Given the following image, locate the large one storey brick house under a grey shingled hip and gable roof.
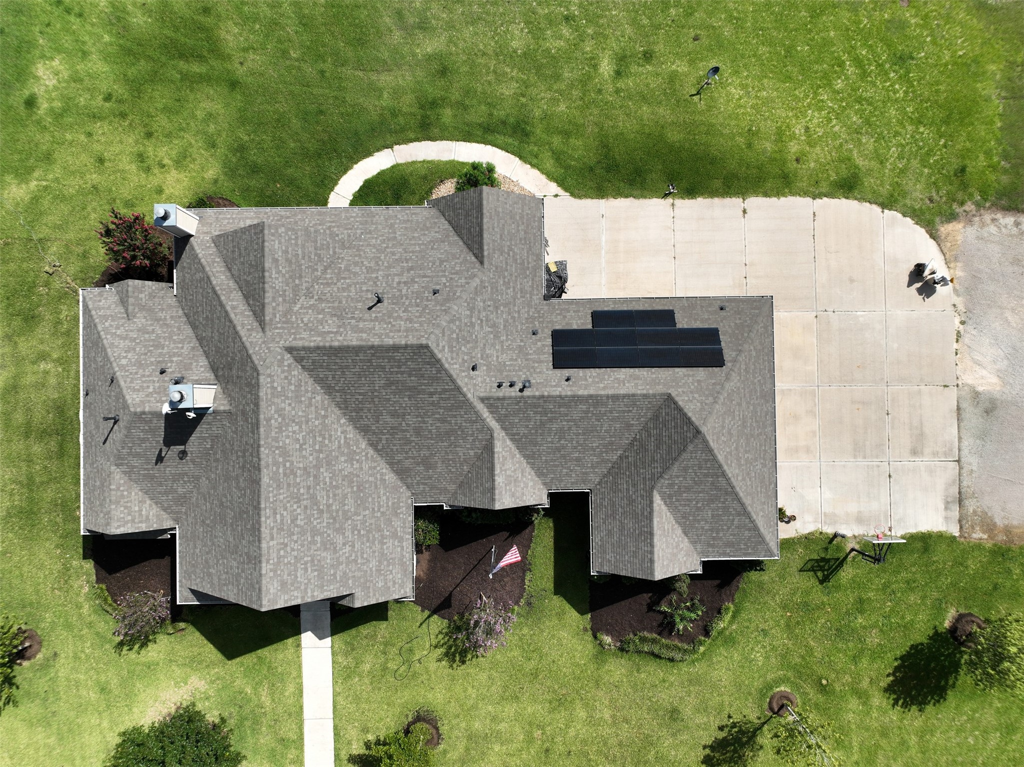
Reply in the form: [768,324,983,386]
[81,186,779,611]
